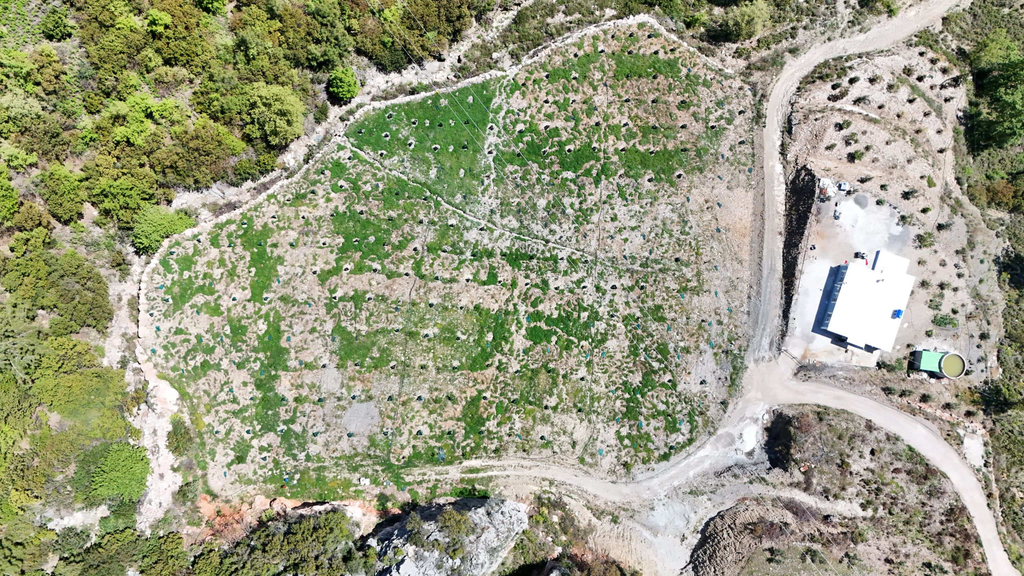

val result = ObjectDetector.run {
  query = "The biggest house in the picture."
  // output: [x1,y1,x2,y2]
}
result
[818,250,915,352]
